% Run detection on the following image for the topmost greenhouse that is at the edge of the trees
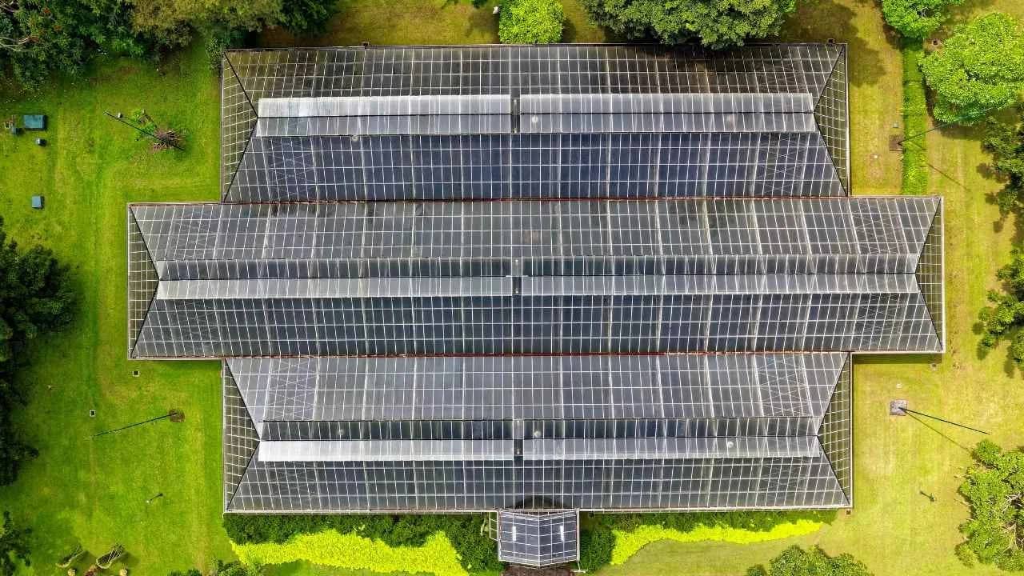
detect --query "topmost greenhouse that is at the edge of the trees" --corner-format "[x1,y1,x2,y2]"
[127,42,945,513]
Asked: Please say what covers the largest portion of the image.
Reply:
buildings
